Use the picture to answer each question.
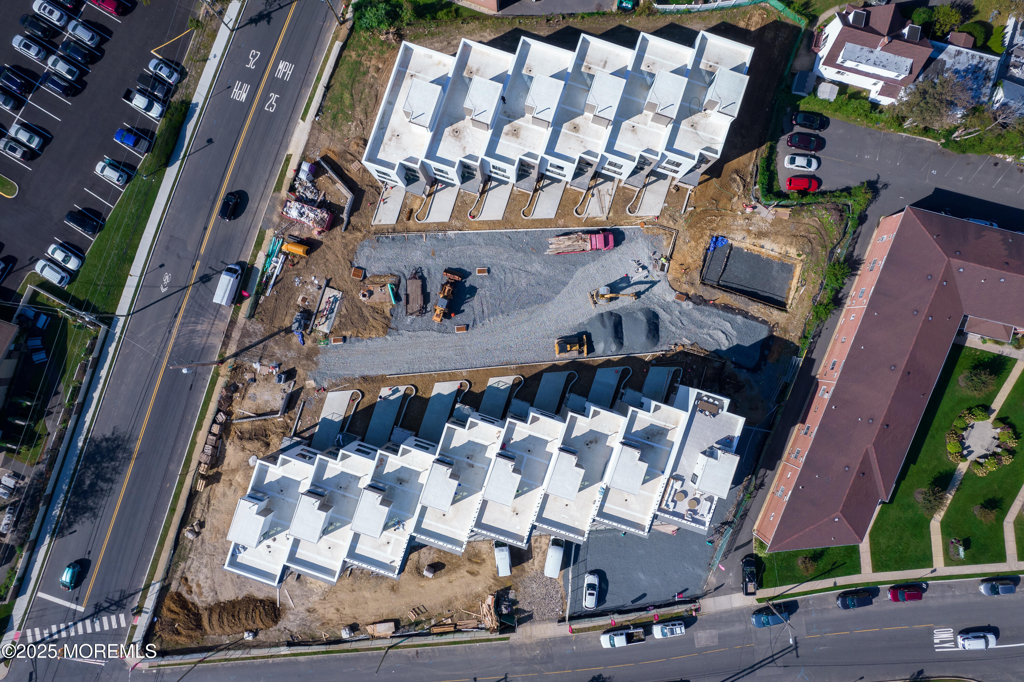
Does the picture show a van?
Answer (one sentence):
Yes, there's a van here.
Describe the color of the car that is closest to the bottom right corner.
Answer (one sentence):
The color of the car that is closest to the bottom right corner is white.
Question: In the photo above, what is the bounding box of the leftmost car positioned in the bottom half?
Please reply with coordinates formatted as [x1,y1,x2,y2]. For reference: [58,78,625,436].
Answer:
[60,561,83,593]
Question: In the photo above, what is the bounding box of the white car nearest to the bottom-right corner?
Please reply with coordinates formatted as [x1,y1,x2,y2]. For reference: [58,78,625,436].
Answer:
[956,631,997,653]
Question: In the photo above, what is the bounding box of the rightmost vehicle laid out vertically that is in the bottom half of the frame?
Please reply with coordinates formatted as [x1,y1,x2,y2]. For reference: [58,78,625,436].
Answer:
[739,556,757,598]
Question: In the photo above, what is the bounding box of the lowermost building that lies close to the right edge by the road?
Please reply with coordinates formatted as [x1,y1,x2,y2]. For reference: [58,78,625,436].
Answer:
[756,205,1024,553]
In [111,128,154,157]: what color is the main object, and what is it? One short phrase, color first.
blue truck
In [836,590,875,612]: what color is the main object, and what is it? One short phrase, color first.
black car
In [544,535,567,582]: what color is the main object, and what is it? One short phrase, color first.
white vehicle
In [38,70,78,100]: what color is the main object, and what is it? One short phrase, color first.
black car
